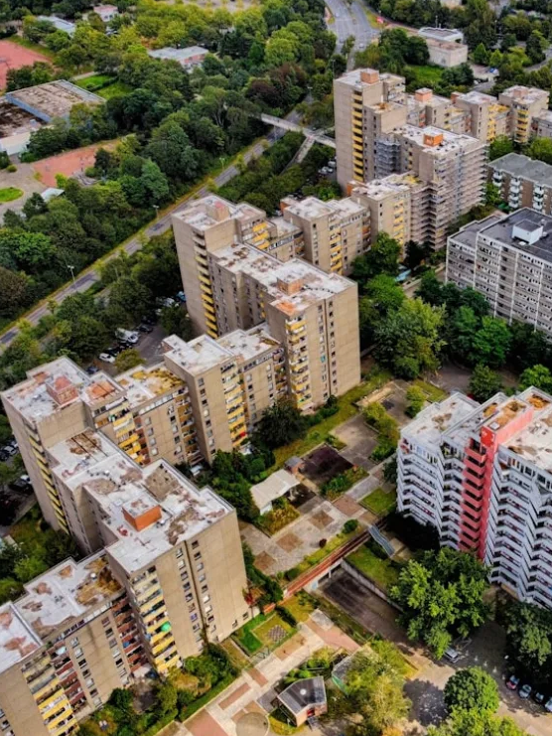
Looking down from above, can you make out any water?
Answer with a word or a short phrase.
No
